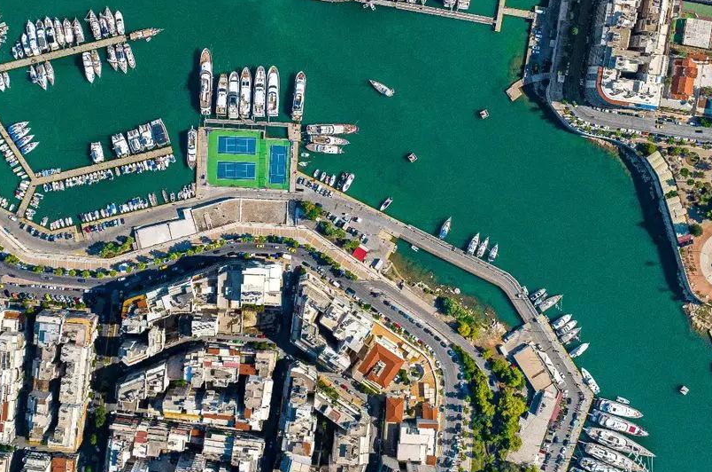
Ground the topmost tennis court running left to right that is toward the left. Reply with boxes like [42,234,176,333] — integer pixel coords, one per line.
[217,137,257,155]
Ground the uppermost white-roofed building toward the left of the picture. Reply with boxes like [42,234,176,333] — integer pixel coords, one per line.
[135,211,198,249]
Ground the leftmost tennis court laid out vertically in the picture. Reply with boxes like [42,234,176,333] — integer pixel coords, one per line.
[270,145,287,183]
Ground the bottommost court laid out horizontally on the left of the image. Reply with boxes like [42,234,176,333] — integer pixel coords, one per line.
[217,162,256,179]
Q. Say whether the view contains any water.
Yes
